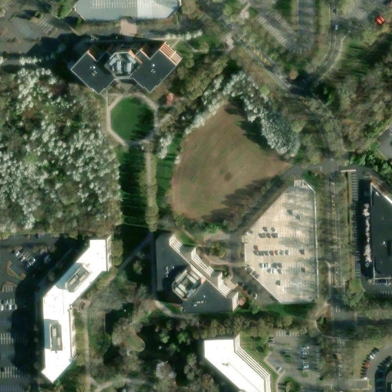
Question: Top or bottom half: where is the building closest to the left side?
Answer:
bottom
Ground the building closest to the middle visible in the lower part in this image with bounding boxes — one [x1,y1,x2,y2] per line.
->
[156,229,241,314]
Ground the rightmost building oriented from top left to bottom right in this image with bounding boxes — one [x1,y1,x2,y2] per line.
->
[204,334,273,392]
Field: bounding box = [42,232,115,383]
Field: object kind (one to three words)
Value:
building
